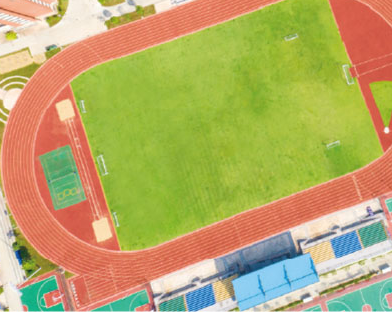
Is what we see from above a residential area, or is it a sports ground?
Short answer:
sports ground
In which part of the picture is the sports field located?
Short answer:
center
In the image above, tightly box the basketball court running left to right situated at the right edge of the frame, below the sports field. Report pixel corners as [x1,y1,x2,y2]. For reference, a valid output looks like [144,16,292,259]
[318,274,392,312]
